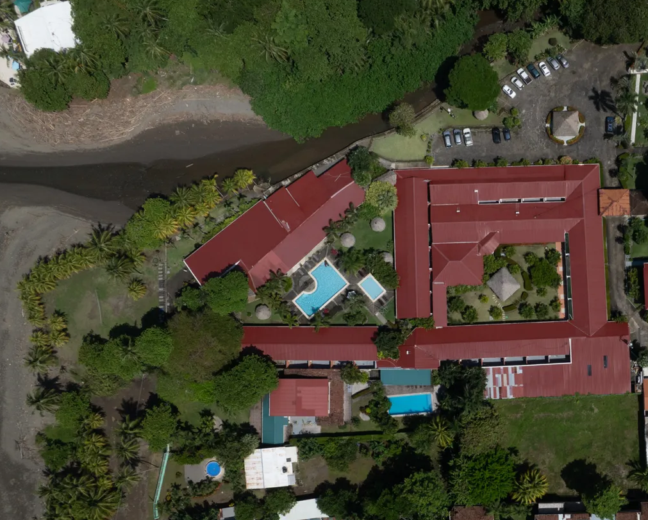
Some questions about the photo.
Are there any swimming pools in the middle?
Yes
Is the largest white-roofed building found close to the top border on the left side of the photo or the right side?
left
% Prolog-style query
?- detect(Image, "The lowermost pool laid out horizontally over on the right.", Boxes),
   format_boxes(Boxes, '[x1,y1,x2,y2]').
[387,391,435,417]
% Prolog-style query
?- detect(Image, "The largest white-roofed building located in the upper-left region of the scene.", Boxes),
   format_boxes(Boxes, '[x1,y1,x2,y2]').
[15,2,80,59]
